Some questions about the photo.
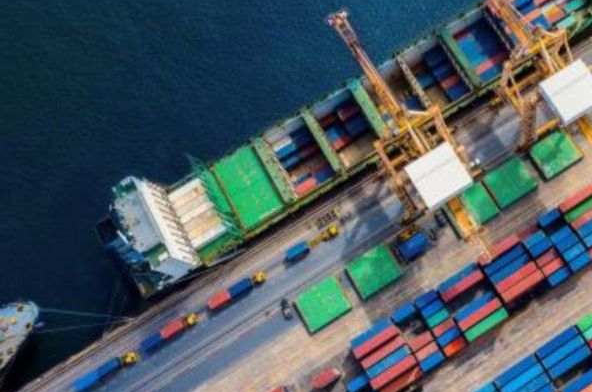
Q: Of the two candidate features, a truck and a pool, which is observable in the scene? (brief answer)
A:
truck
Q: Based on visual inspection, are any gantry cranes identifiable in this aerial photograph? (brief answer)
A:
Yes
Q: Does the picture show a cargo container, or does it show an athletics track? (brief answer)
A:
cargo container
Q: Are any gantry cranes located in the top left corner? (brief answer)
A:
No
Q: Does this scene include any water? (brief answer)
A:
Yes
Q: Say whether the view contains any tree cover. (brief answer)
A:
No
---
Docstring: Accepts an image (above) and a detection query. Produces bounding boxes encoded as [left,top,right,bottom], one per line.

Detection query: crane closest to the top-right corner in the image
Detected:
[489,0,592,146]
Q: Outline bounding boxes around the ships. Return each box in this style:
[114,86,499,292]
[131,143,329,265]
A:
[0,306,47,375]
[91,0,592,304]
